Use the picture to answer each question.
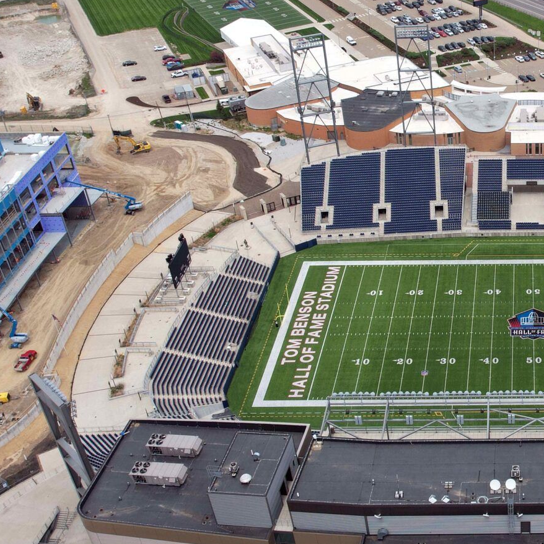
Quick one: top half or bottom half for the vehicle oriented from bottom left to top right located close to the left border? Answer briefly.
bottom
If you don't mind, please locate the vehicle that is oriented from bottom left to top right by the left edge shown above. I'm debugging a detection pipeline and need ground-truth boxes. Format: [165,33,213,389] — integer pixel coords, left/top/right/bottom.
[13,349,35,368]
